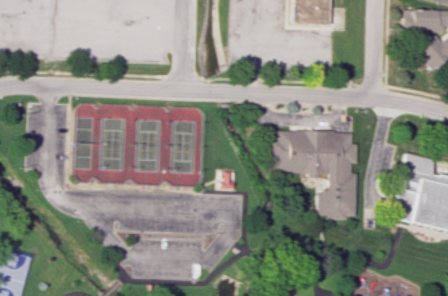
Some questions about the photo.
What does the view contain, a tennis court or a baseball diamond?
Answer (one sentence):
This aerial view contains a tennis court.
